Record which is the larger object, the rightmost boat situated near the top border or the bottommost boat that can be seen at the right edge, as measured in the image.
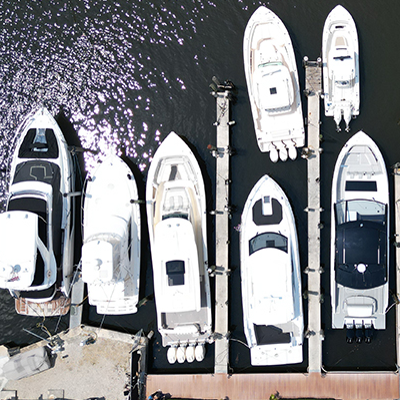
the bottommost boat that can be seen at the right edge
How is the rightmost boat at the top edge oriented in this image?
vertically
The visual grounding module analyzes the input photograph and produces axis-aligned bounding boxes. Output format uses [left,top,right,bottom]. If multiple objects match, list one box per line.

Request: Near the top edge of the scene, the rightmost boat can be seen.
[322,5,359,134]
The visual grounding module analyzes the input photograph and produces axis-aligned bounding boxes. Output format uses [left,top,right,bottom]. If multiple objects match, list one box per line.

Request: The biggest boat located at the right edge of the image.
[331,130,390,344]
